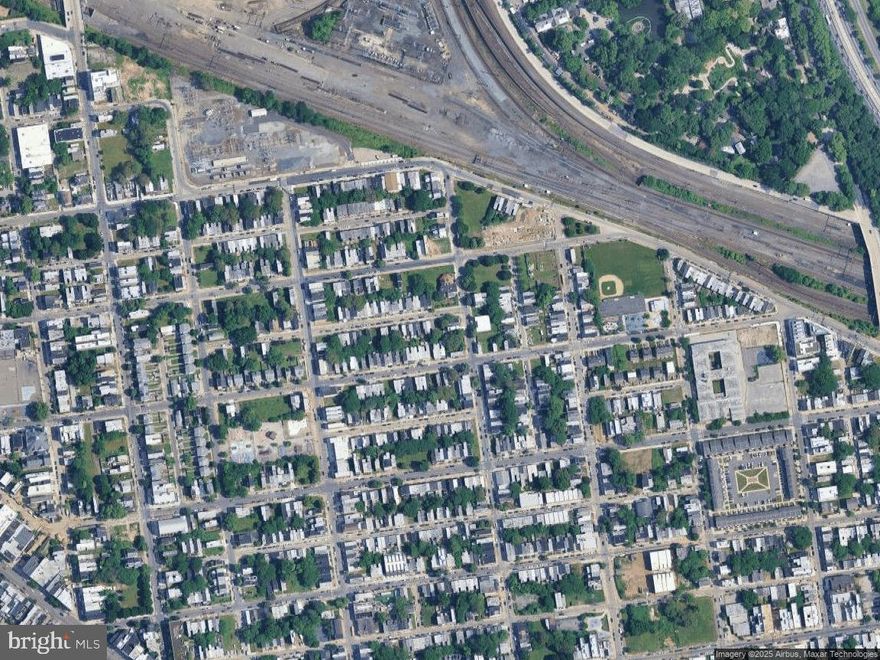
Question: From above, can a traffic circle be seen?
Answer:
No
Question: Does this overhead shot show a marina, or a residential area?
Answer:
residential area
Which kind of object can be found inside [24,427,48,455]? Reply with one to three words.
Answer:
house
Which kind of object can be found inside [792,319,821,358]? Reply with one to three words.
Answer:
house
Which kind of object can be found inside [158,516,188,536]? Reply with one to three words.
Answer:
building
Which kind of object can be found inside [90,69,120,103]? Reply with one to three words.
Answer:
building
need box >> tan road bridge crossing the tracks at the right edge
[852,201,880,348]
